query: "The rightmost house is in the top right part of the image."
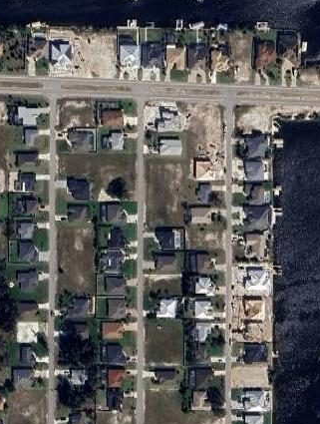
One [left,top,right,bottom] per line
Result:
[280,47,300,70]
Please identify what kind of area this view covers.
residential area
